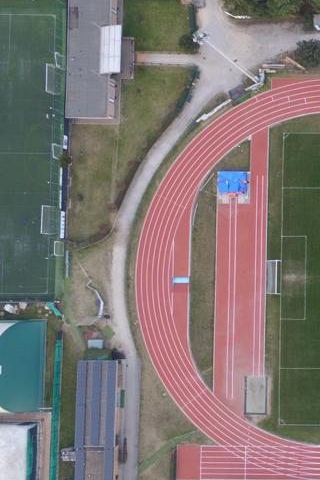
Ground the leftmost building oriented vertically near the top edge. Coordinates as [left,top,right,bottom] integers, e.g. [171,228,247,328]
[65,0,119,121]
